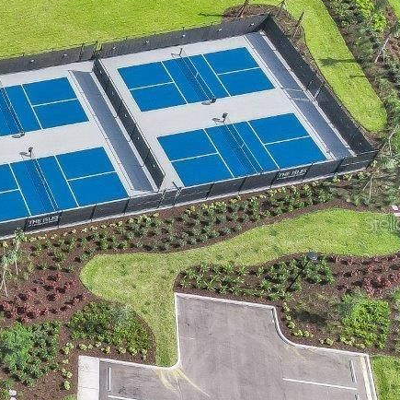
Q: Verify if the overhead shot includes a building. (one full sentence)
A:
No, the picture doesn't show any building.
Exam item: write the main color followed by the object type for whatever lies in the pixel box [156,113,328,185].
blue sports court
